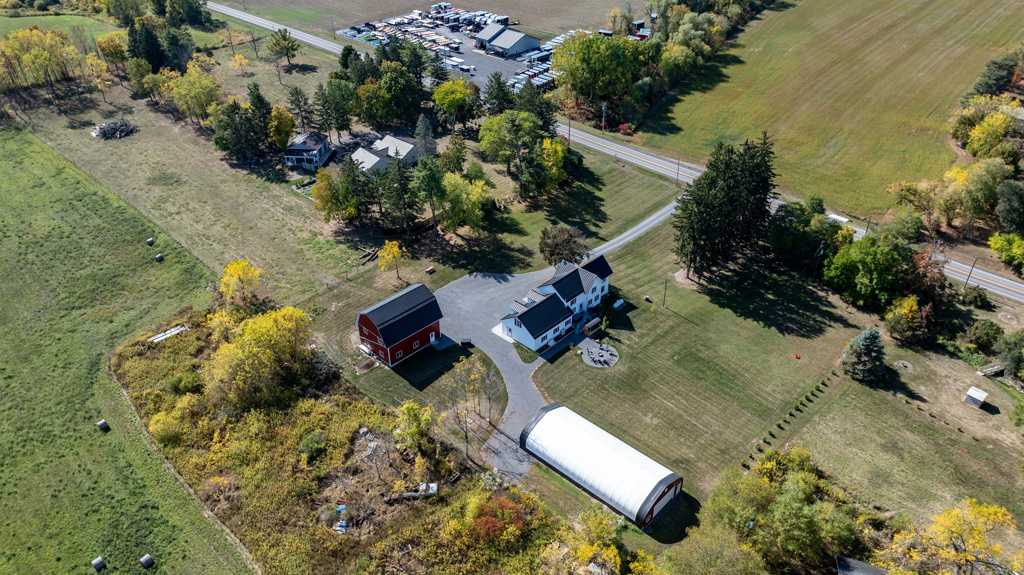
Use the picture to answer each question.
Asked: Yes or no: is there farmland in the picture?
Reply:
Yes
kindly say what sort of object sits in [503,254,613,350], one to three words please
house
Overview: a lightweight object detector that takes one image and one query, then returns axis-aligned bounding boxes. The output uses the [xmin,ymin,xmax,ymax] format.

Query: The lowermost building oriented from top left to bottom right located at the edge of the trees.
[520,401,681,529]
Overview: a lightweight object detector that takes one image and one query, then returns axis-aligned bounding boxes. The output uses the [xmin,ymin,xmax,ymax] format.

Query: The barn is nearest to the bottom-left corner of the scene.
[354,283,443,367]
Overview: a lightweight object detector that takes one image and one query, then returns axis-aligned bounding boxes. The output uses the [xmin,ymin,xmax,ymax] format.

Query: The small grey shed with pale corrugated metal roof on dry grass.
[965,386,992,408]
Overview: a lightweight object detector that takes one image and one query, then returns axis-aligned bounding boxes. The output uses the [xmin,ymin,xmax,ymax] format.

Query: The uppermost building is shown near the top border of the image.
[475,23,539,59]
